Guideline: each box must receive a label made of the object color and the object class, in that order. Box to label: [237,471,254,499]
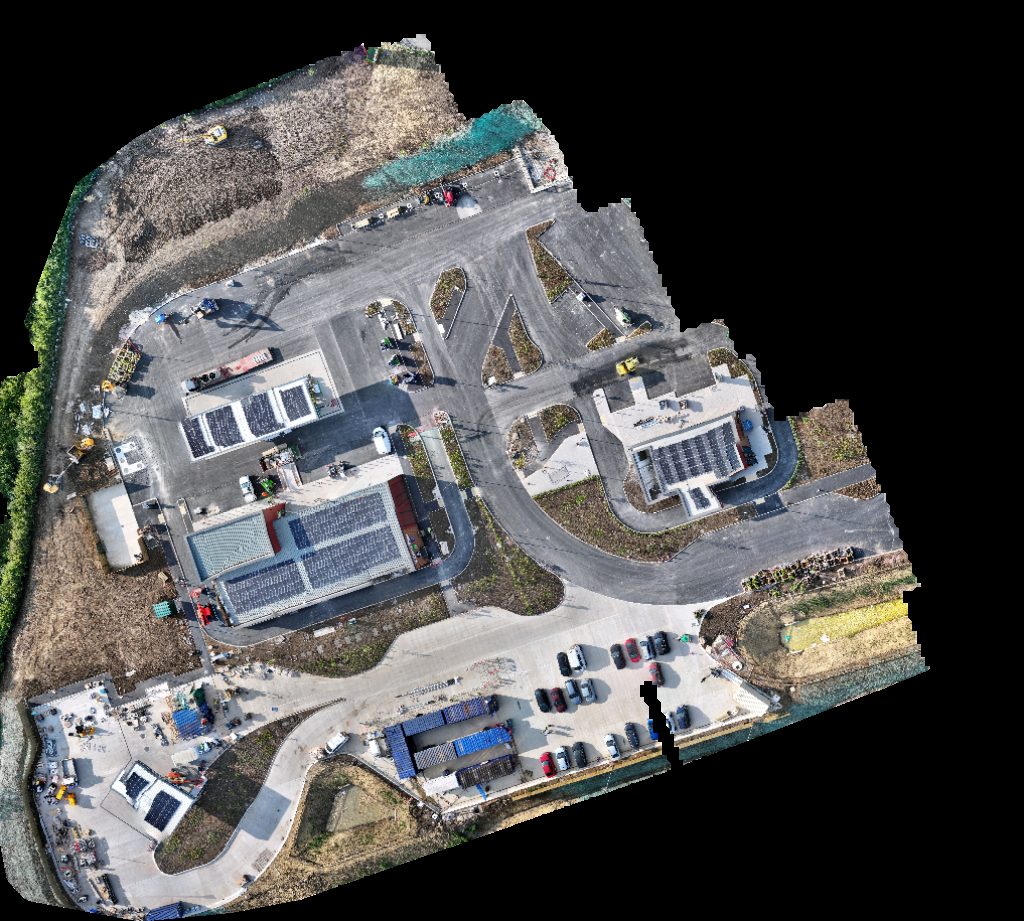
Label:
white vehicle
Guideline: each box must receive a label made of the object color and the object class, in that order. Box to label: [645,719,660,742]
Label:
blue car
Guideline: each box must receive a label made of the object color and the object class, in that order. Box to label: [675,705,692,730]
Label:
blue car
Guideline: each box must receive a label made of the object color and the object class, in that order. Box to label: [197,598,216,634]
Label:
red work vehicle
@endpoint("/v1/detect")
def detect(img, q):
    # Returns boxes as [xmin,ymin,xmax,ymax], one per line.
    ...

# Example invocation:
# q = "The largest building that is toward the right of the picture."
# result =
[631,412,751,519]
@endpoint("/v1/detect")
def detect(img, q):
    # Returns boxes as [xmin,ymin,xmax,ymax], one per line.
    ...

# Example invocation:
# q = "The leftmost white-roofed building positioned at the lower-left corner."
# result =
[110,761,196,845]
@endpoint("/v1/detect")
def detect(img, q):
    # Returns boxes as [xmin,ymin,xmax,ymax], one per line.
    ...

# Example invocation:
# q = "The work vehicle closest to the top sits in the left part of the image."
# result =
[174,123,229,148]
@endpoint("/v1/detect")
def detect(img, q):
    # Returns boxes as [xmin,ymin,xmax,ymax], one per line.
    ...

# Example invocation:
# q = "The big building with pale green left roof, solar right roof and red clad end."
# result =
[184,475,430,632]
